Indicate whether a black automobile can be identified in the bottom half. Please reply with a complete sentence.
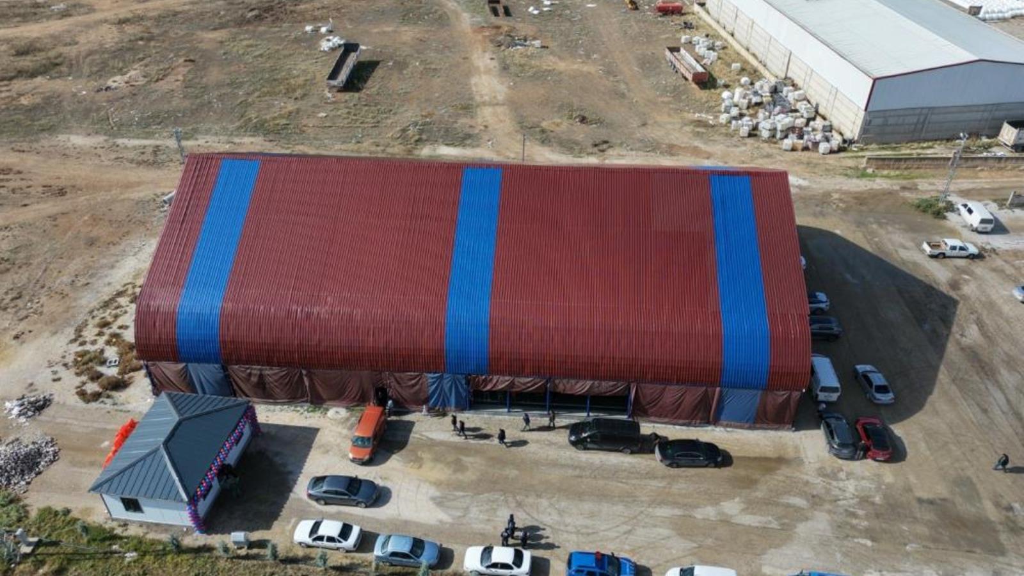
Yes, a black automobile can be seen in the bottom half.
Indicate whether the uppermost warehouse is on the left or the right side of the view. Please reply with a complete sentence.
It is on the right.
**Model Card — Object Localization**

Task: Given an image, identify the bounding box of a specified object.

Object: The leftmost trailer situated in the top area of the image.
[326,43,361,92]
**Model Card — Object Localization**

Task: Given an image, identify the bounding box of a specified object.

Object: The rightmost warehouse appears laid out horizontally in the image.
[699,0,1024,142]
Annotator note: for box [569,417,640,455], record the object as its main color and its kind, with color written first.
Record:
black vehicle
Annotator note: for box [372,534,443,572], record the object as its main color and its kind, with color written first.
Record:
blue car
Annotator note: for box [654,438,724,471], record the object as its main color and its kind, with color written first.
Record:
black car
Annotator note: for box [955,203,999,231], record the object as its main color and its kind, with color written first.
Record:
white vehicle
